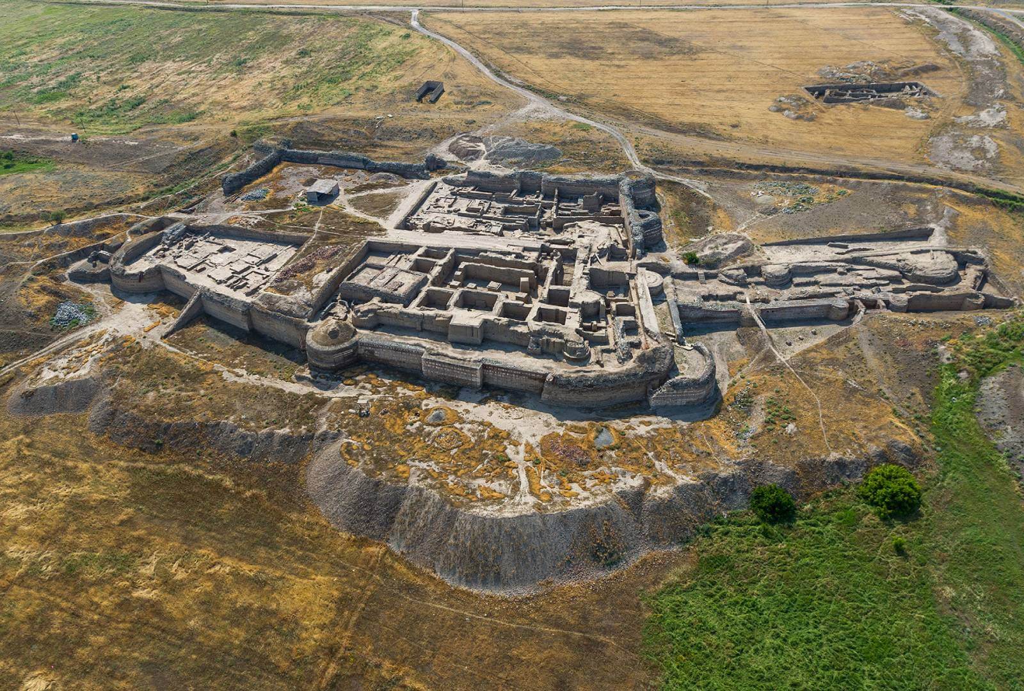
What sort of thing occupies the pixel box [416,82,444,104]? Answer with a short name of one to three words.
building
